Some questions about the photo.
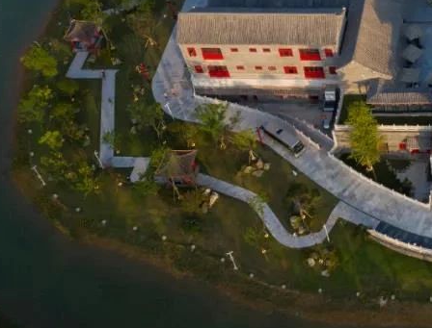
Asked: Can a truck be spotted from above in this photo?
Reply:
Yes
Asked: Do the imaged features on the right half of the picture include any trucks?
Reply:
Yes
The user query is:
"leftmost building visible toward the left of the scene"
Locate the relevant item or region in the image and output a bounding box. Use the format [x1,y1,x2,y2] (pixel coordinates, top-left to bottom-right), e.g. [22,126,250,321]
[58,15,110,59]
